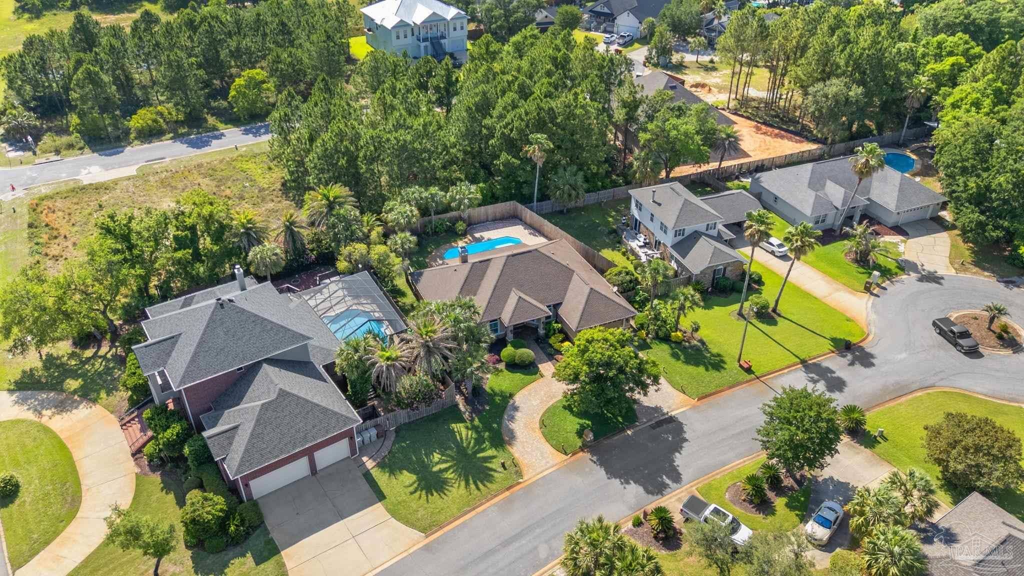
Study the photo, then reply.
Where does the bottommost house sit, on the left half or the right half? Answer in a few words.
right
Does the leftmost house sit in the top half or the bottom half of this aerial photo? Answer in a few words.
bottom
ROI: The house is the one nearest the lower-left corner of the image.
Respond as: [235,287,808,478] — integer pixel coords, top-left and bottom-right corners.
[128,258,366,500]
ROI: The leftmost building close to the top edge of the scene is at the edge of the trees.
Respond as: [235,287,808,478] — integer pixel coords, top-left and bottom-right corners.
[359,0,468,65]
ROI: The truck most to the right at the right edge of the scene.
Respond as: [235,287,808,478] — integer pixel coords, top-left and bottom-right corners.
[928,315,984,352]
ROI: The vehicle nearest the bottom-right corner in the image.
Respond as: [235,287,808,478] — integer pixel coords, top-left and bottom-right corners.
[805,495,844,545]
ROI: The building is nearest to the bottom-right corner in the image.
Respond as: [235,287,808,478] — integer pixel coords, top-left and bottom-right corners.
[888,490,1024,576]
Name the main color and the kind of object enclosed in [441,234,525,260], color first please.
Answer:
blue swimming pool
